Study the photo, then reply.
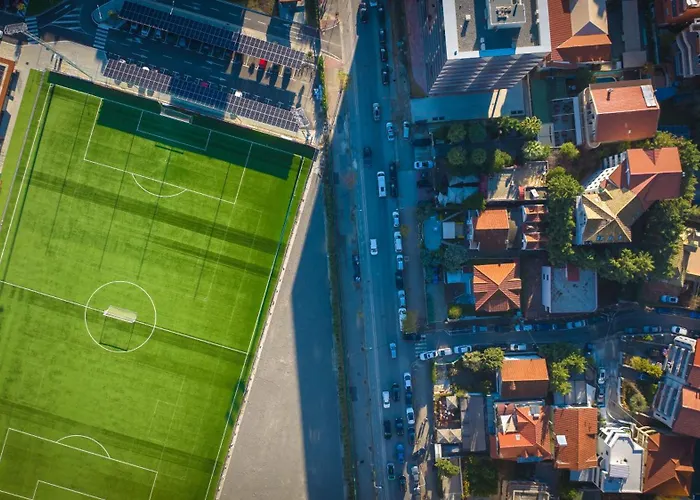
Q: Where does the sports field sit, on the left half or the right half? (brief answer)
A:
left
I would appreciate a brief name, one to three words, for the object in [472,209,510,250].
house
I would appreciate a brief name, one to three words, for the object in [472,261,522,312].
house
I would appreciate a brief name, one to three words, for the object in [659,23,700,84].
building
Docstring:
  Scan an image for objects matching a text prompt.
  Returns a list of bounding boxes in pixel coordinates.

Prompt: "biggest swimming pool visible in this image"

[422,218,442,252]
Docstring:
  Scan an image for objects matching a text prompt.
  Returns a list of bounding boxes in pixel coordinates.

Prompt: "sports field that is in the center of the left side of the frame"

[0,70,314,500]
